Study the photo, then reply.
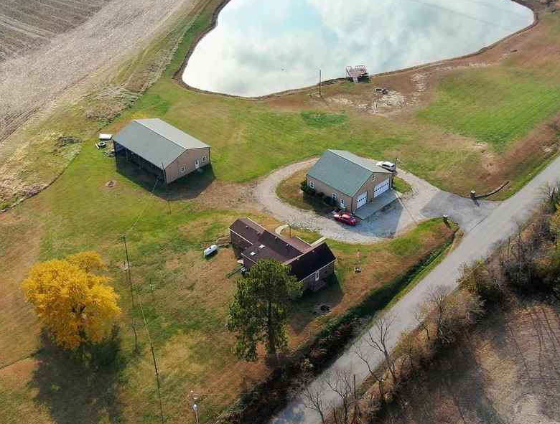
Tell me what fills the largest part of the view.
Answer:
grass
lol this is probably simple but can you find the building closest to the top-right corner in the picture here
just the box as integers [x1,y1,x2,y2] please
[305,151,395,211]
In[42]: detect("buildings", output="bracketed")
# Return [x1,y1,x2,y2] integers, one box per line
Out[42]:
[111,120,212,184]
[305,151,395,211]
[227,217,337,291]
